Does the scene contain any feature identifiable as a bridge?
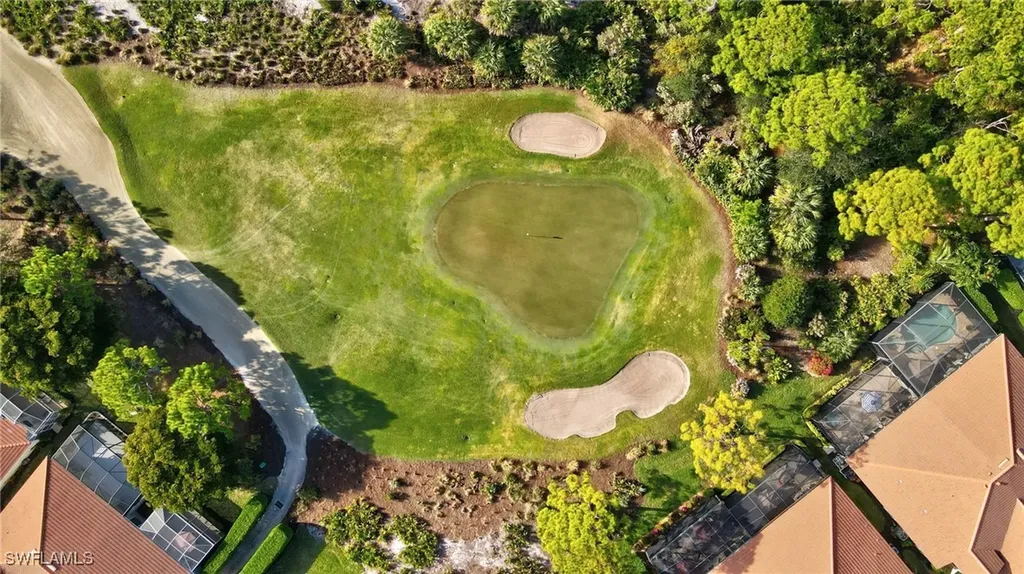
No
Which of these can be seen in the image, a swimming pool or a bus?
swimming pool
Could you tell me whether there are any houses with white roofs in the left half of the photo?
No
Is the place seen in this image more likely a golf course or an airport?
golf course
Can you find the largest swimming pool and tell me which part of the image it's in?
right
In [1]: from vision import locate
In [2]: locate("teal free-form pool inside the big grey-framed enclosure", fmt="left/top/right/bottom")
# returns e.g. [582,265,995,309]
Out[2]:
[907,303,960,348]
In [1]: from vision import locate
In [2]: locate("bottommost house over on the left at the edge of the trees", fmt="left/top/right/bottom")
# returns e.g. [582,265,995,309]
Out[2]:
[0,457,198,574]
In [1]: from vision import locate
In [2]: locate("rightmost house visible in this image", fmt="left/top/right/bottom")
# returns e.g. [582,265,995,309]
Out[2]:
[843,334,1024,574]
